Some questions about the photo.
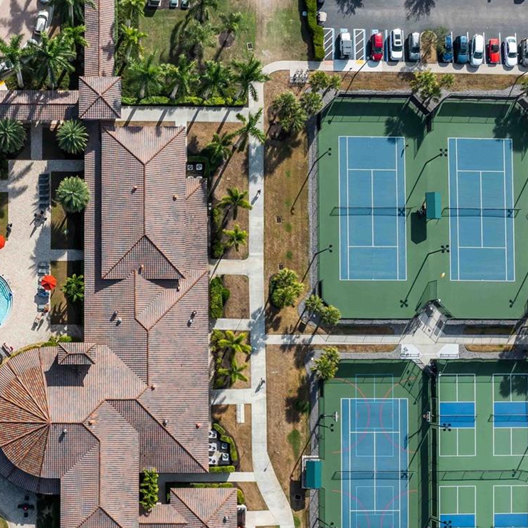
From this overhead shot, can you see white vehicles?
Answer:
Yes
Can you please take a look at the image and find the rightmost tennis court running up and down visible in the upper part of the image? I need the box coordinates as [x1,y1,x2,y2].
[427,97,528,319]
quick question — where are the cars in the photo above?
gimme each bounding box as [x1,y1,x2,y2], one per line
[518,39,528,69]
[468,34,485,68]
[486,40,501,66]
[407,32,422,62]
[369,32,385,62]
[0,60,16,78]
[440,34,456,64]
[33,9,49,39]
[455,36,469,64]
[388,30,404,60]
[502,38,519,68]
